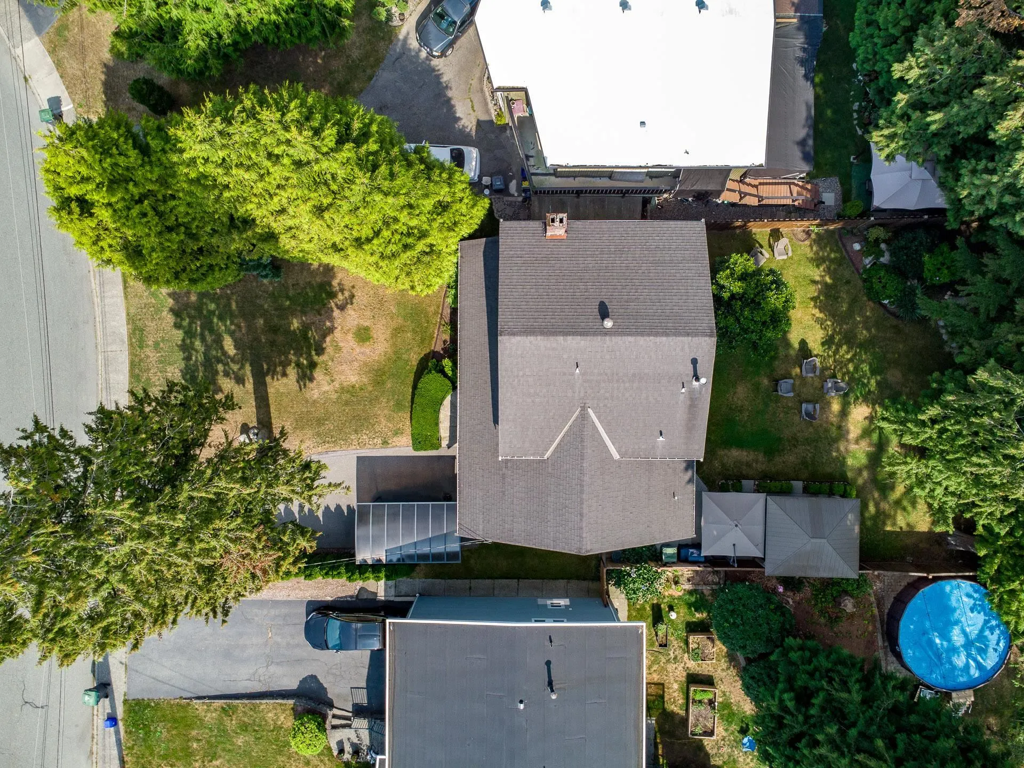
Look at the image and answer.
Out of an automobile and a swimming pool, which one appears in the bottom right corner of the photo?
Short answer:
swimming pool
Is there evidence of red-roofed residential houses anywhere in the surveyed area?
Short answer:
No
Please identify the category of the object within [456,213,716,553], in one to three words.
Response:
house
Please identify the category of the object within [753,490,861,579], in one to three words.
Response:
gazebo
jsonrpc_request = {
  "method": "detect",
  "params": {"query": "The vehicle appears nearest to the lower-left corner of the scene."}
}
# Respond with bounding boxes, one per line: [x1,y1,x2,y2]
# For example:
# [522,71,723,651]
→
[308,608,404,658]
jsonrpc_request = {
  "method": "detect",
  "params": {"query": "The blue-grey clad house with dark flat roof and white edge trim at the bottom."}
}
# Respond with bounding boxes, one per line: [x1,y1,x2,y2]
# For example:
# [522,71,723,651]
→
[375,595,646,768]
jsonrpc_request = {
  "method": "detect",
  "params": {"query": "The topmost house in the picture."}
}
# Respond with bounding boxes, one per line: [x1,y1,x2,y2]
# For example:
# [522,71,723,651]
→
[473,0,823,206]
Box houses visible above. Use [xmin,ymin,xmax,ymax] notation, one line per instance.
[456,213,716,553]
[375,595,646,768]
[473,0,823,206]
